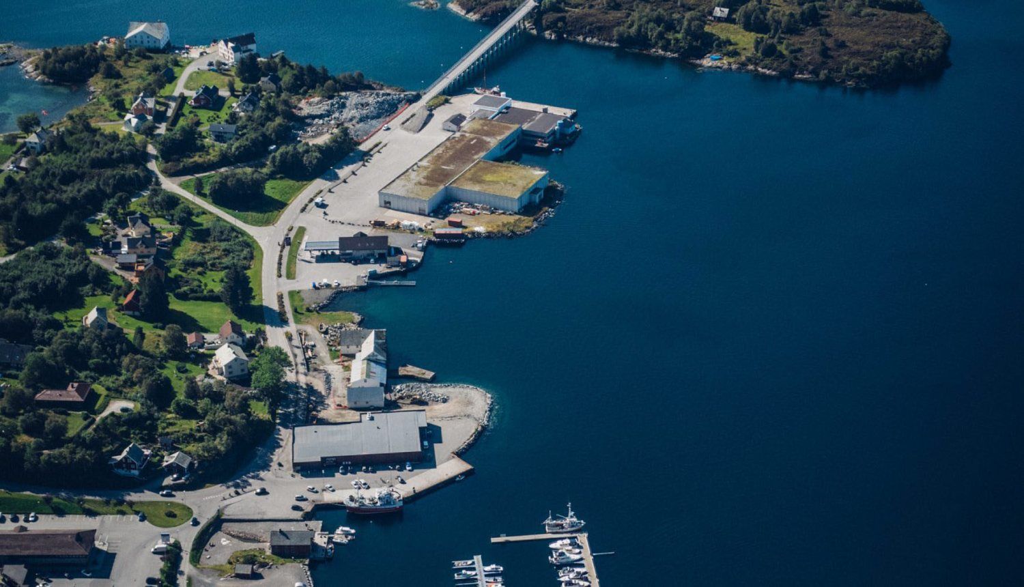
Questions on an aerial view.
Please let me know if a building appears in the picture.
Yes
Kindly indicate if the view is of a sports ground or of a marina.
marina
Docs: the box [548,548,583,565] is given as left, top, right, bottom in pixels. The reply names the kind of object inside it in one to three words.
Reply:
boat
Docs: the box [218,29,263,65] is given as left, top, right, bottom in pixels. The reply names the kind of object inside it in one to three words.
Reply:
house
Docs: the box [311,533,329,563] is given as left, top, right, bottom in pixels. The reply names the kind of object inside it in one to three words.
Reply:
pier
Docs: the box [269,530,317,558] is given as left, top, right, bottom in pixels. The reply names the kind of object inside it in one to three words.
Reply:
building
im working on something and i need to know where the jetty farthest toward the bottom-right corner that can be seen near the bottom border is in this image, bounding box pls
[556,536,616,587]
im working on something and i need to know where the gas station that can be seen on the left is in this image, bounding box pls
[337,230,391,261]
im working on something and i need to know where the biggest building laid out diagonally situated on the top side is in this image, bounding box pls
[378,118,522,215]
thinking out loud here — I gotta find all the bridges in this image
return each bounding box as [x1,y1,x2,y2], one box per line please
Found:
[418,0,537,105]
